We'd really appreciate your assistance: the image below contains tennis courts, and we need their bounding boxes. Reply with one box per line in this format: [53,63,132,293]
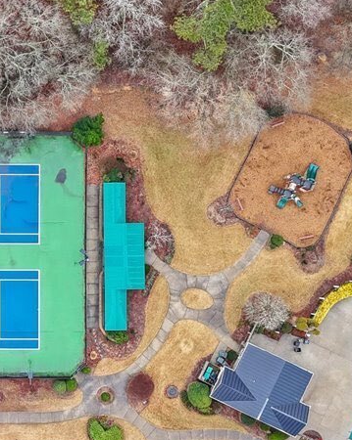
[0,257,86,375]
[0,133,86,257]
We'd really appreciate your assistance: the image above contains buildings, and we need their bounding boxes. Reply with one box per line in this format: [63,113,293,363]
[103,182,144,331]
[210,343,313,437]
